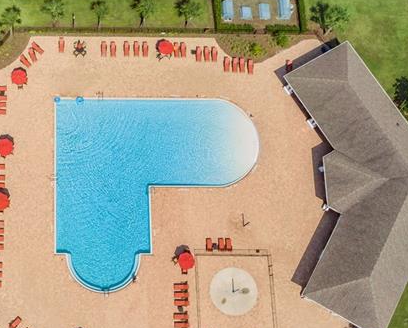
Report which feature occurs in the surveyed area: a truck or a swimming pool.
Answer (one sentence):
There is a swimming pool in the scene.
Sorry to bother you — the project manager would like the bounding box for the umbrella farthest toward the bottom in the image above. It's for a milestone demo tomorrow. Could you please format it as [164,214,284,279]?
[177,252,195,271]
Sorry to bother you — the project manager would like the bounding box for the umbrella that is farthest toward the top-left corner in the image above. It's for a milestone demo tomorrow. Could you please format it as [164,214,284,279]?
[11,68,29,86]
